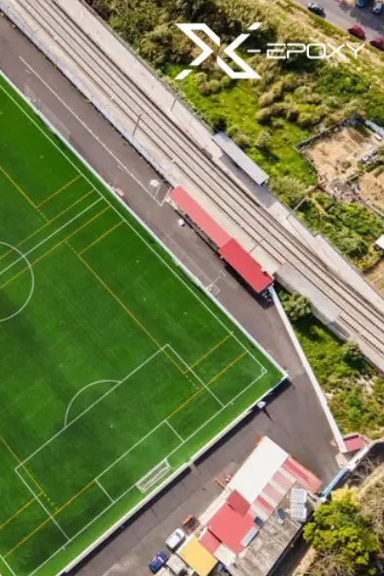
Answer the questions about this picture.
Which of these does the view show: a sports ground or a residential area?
sports ground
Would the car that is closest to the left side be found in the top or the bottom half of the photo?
bottom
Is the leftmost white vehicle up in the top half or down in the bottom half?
bottom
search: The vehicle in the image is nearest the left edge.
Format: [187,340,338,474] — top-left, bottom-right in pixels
[148,553,168,573]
